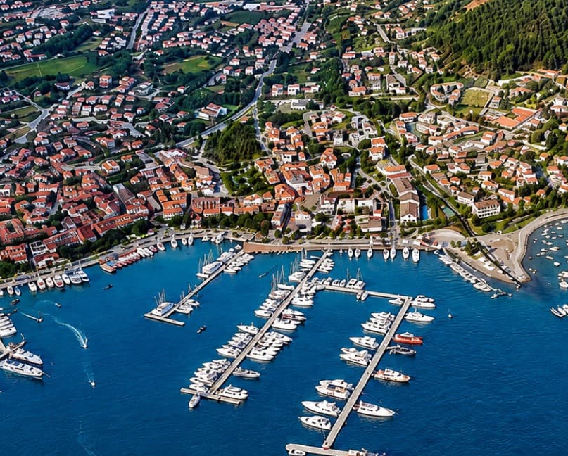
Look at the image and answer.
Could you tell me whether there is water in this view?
Yes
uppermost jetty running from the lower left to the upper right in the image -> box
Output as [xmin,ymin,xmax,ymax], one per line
[161,250,245,317]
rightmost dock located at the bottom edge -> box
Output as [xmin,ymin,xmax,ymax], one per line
[324,295,415,450]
